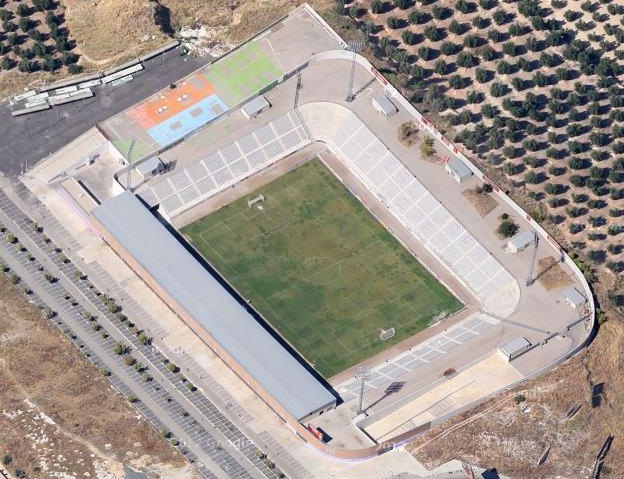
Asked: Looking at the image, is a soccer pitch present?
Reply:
Yes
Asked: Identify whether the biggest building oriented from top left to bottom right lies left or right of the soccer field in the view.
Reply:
left of it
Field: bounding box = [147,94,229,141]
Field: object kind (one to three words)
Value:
sports court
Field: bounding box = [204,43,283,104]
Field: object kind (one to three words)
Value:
sports court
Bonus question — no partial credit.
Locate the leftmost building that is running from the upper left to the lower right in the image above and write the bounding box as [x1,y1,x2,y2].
[62,177,100,213]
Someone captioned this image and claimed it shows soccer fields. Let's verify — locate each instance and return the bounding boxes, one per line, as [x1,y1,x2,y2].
[179,157,466,381]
